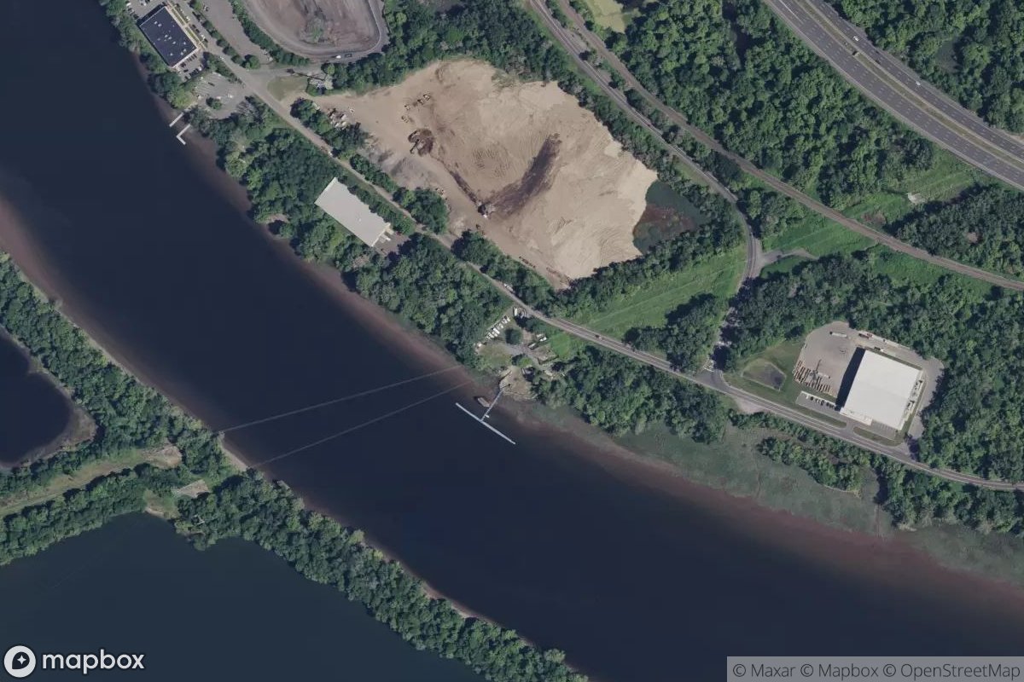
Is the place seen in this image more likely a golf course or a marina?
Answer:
marina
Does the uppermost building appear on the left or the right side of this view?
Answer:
left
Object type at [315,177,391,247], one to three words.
building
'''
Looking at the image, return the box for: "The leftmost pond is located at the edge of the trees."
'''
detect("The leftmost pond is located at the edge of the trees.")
[633,176,714,255]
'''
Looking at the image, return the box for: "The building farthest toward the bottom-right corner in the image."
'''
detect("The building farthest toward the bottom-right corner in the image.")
[839,350,923,430]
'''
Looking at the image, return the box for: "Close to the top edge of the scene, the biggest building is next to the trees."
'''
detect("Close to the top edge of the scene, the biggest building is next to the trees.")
[140,7,198,66]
